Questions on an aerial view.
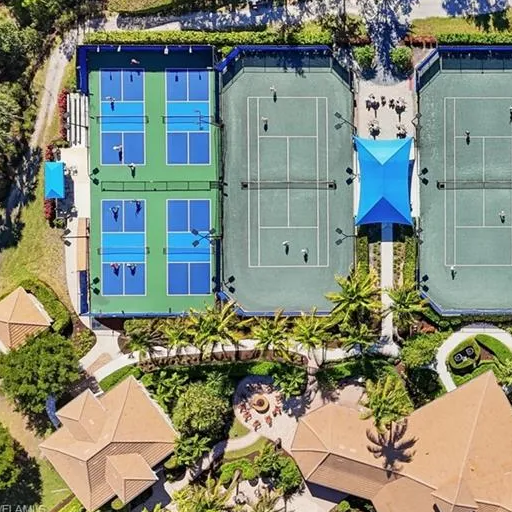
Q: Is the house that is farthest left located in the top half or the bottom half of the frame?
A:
bottom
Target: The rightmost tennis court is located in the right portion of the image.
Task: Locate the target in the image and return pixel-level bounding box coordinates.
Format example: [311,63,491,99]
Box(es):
[418,51,512,311]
